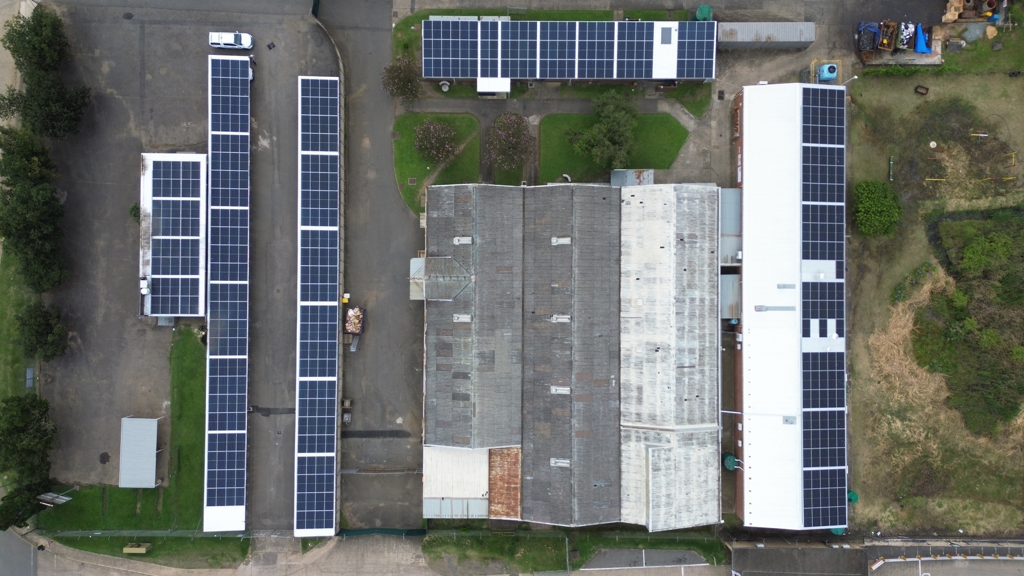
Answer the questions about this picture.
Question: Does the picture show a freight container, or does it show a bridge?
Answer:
freight container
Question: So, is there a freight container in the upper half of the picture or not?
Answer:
Yes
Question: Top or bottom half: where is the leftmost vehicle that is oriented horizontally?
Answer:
top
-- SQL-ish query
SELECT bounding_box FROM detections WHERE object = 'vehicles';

[249,68,258,83]
[207,30,252,50]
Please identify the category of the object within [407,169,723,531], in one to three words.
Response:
building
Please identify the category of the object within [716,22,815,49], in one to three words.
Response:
shipping container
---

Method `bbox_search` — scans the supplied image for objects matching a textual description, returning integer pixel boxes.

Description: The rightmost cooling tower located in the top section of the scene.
[814,64,837,83]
